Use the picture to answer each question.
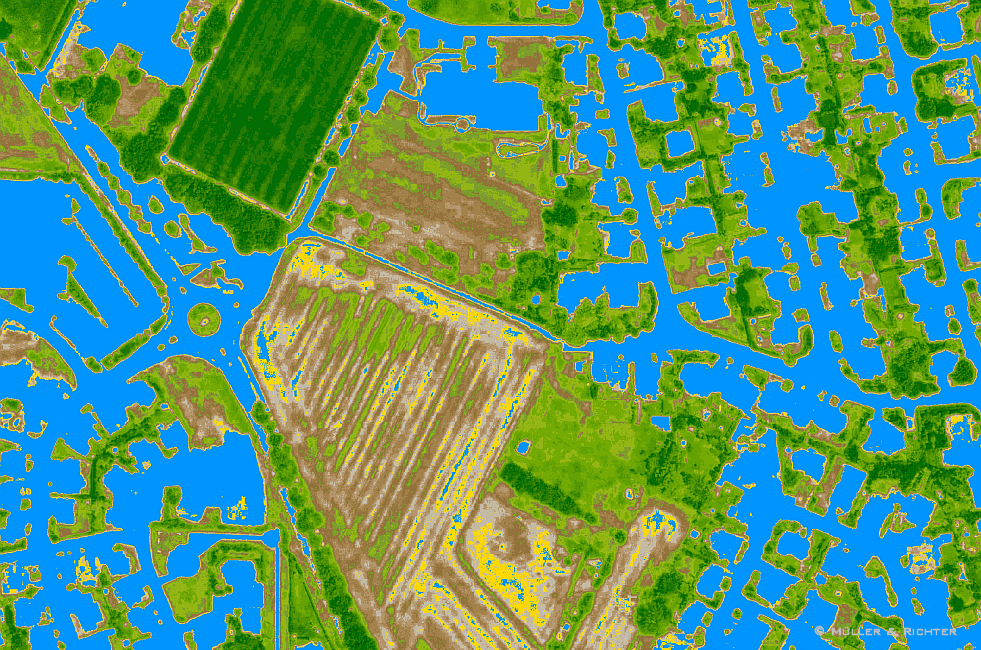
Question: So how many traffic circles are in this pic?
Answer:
1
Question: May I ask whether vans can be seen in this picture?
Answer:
No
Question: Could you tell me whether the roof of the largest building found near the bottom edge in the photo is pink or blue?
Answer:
blue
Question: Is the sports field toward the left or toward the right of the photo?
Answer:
left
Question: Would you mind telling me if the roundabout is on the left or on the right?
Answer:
left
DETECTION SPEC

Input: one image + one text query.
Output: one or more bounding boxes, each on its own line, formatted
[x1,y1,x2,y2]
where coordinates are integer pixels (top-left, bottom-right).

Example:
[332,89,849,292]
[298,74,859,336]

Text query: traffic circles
[175,290,234,349]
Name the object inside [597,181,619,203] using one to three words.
house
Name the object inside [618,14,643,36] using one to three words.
house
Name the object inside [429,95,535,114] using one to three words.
building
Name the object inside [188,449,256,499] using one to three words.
building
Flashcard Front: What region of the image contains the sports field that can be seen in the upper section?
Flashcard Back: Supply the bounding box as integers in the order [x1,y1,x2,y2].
[163,0,386,221]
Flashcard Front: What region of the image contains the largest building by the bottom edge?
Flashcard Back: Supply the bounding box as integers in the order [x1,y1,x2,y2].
[236,579,260,629]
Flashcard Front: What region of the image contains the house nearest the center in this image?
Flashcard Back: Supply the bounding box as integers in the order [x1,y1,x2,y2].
[565,277,590,298]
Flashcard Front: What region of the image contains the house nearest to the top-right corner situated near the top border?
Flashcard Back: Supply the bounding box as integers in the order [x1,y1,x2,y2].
[935,19,959,40]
